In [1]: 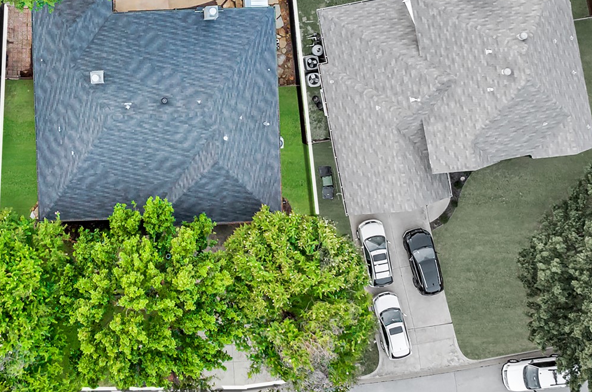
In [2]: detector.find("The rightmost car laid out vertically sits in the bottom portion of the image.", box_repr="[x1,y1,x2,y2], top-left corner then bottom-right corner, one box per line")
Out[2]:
[402,227,443,297]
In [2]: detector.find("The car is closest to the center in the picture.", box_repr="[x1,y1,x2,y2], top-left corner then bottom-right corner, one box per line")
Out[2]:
[355,220,393,287]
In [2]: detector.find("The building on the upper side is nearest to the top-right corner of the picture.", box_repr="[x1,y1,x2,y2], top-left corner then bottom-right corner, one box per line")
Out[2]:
[316,0,592,215]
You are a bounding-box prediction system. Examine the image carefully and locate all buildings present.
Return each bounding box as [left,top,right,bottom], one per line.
[316,0,592,215]
[33,0,284,221]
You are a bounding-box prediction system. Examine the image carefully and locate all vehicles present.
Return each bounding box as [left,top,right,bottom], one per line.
[402,227,443,297]
[355,220,393,287]
[371,291,410,359]
[500,355,577,392]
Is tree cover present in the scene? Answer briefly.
Yes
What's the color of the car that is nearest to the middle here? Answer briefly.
white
